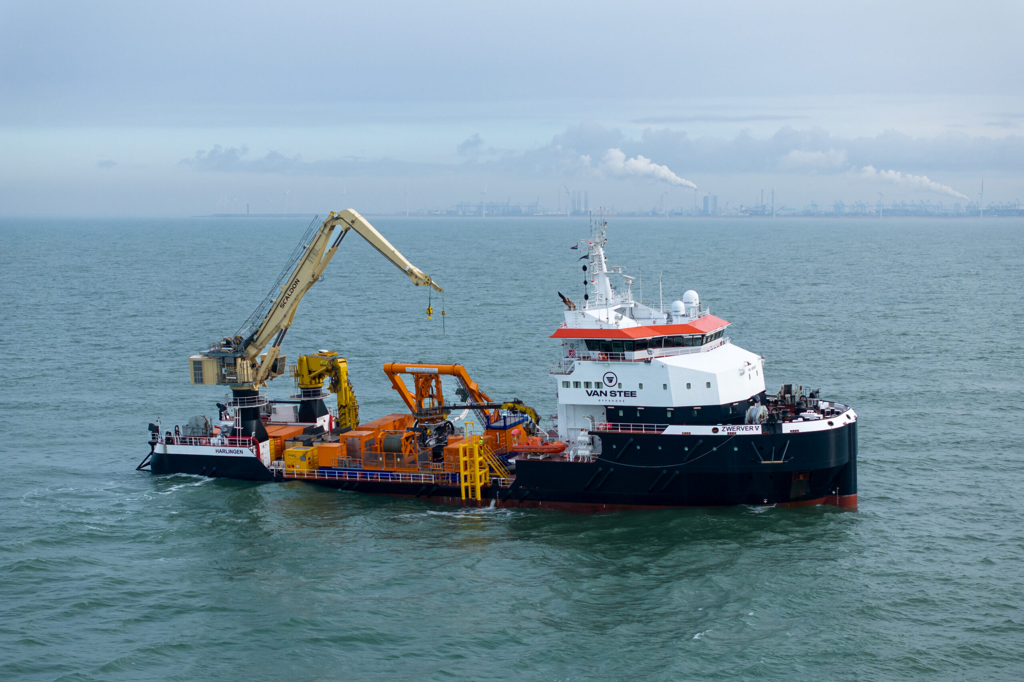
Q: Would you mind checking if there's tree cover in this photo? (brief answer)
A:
No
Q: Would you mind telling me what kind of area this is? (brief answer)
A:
port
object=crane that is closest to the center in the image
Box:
[443,397,543,440]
